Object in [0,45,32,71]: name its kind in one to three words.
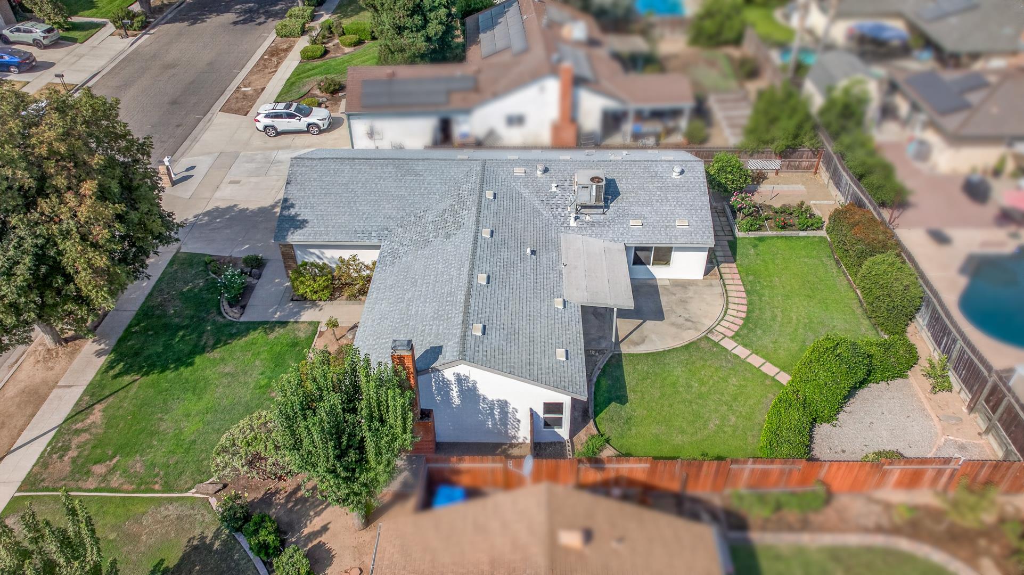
car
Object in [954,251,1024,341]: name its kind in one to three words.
swimming pool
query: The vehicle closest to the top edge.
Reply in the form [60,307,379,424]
[0,17,60,45]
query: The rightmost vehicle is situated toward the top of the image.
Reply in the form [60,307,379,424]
[254,100,332,137]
